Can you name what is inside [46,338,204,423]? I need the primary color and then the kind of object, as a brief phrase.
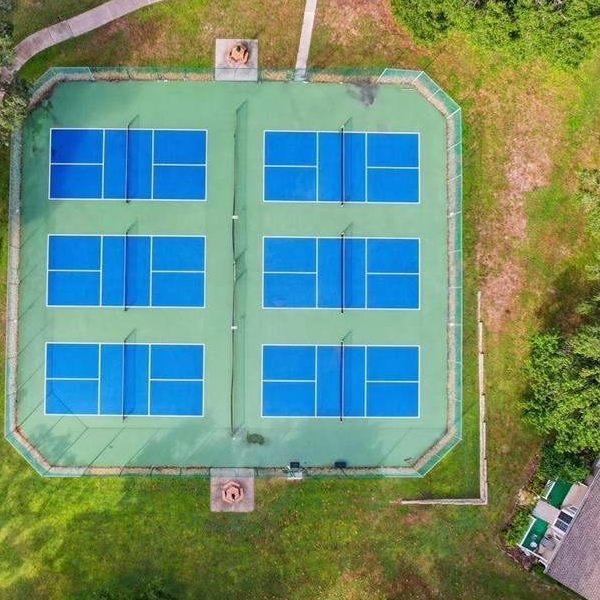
blue sports court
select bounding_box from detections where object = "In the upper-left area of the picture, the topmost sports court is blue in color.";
[49,121,207,206]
